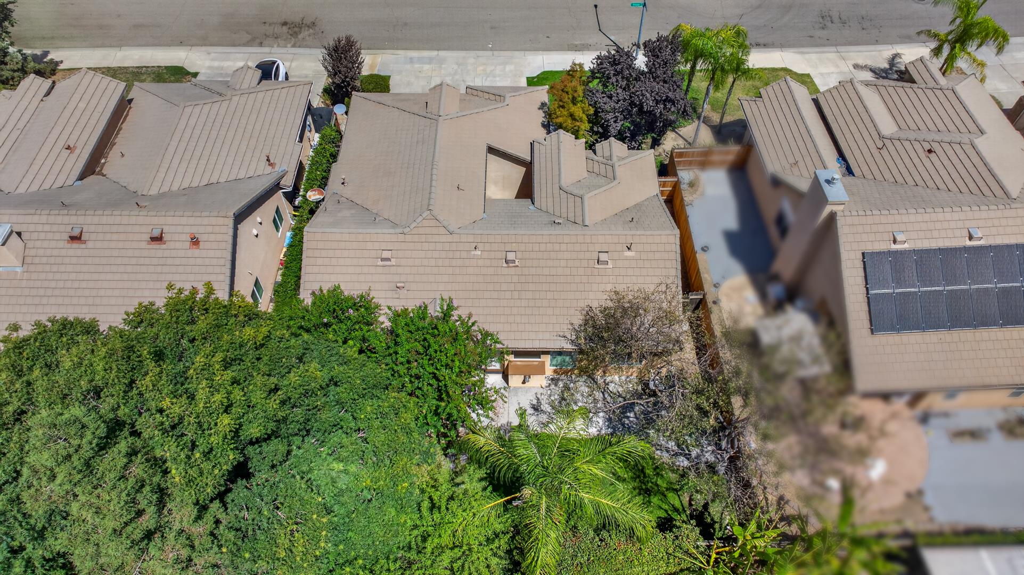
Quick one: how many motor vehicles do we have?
1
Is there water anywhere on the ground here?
No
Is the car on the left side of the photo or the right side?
left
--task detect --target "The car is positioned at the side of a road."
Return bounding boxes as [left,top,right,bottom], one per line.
[257,55,294,83]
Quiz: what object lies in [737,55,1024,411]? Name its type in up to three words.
house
